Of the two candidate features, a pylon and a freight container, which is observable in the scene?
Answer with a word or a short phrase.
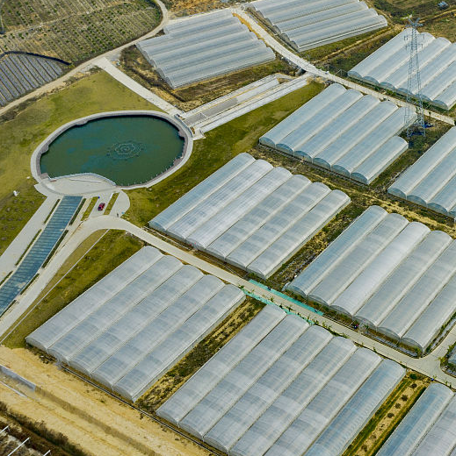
pylon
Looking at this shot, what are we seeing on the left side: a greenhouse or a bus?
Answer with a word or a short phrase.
greenhouse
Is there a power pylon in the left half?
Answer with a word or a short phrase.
No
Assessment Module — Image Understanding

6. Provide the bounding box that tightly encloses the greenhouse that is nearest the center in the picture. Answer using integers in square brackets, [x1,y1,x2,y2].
[146,151,353,282]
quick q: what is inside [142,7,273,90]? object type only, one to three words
greenhouse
